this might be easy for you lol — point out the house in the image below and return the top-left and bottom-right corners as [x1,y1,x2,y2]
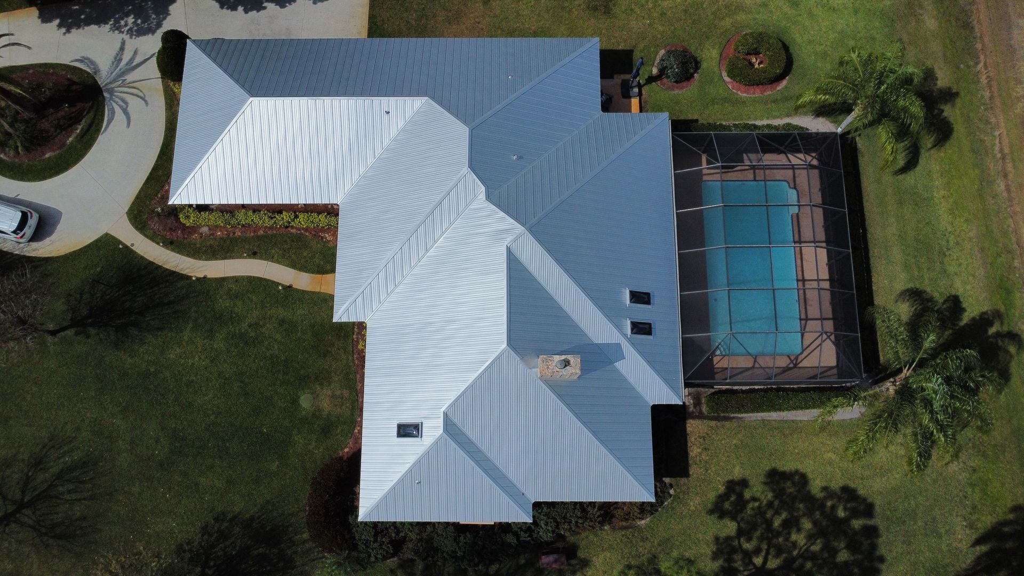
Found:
[167,37,684,524]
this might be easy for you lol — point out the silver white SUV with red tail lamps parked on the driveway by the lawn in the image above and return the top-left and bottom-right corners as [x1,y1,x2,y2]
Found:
[0,204,41,245]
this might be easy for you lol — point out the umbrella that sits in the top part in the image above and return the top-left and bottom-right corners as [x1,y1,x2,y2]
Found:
[621,60,643,99]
